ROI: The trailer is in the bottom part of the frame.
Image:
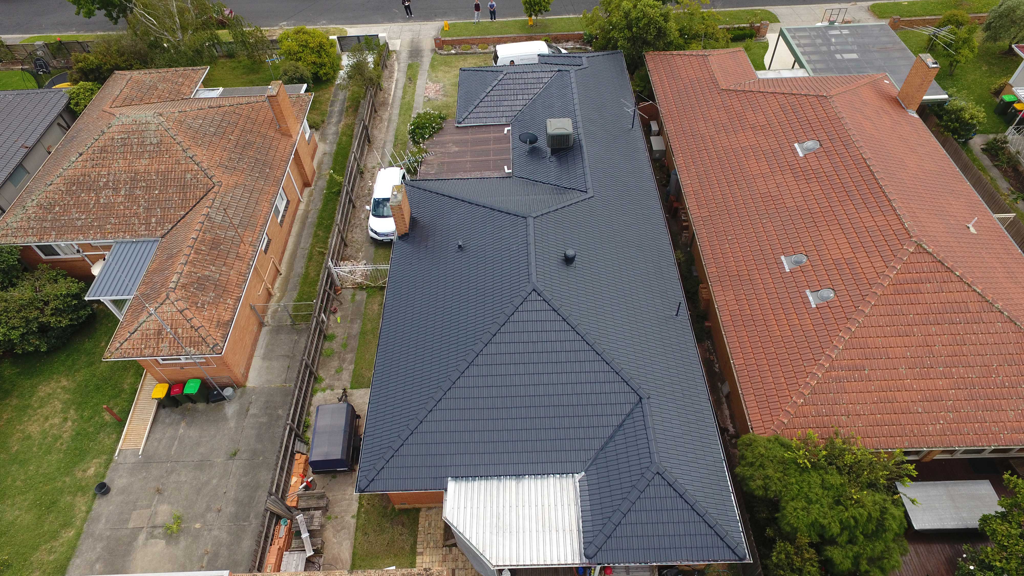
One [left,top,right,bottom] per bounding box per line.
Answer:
[305,381,363,475]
